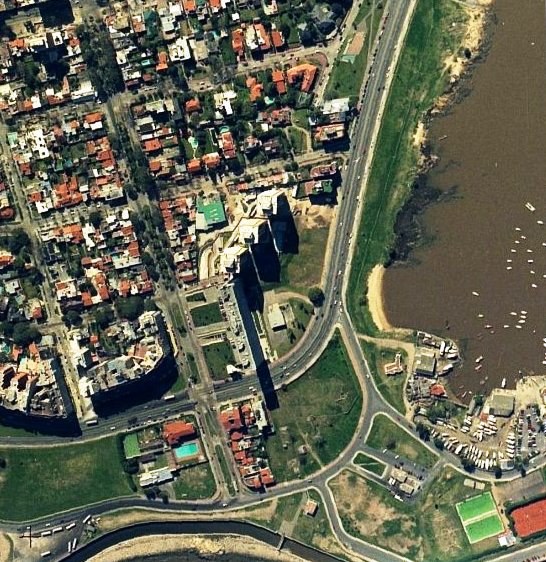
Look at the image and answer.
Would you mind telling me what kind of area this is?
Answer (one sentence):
This looks like a residential area.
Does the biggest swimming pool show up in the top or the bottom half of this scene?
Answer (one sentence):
You can find the biggest swimming pool in the bottom half.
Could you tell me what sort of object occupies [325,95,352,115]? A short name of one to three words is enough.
building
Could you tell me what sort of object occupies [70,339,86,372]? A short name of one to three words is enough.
house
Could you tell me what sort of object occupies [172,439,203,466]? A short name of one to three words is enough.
swimming pool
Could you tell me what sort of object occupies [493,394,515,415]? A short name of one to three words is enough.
shed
